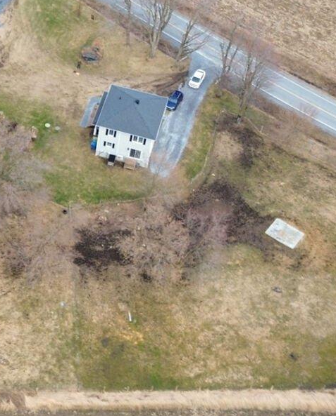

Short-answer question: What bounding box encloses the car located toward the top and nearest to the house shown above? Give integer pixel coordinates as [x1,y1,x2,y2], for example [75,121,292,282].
[167,89,183,113]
